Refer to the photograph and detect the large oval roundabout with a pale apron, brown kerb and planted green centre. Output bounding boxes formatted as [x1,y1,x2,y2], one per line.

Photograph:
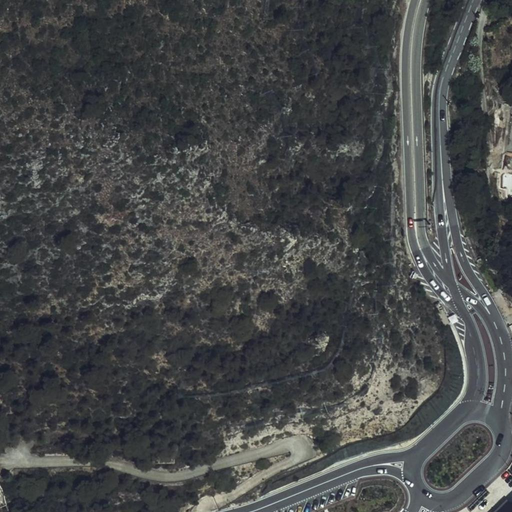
[422,421,494,492]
